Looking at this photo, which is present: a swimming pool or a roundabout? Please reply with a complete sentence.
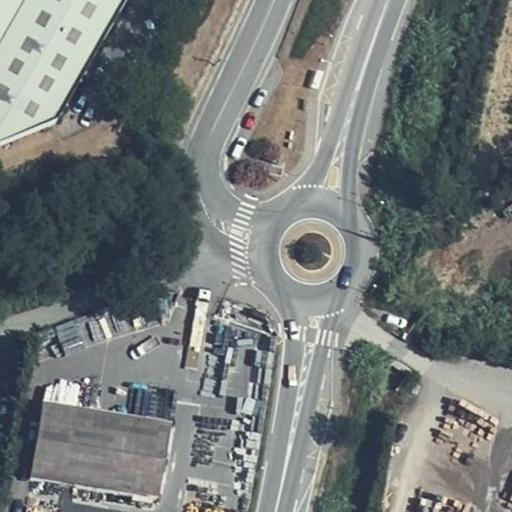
The one in the frame is a roundabout.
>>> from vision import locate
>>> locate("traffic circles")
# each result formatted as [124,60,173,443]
[278,218,346,286]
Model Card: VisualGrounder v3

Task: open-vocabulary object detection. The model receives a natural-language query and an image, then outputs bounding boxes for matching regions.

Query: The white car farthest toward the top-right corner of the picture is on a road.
[254,89,268,107]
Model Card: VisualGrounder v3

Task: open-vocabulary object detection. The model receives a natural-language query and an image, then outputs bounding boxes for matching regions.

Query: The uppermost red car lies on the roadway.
[244,114,256,130]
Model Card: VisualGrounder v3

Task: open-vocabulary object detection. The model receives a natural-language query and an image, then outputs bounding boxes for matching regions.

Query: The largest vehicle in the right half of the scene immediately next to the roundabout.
[338,264,356,290]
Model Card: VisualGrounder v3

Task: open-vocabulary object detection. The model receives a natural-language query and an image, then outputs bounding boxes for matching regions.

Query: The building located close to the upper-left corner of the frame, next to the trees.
[0,0,130,150]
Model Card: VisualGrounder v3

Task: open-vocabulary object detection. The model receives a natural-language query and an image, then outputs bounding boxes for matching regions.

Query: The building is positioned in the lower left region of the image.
[30,401,173,503]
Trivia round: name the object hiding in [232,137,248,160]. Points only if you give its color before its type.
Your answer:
white vehicle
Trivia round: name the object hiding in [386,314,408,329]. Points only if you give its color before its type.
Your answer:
white car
